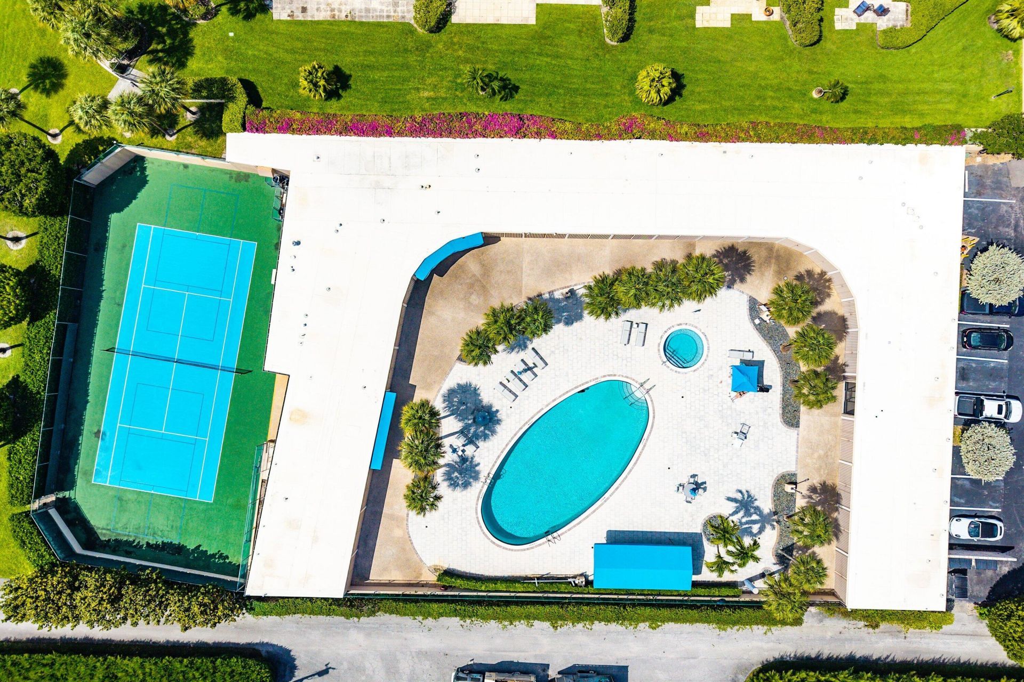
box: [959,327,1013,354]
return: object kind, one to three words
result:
car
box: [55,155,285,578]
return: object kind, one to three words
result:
tennis court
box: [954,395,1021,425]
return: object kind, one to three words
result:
truck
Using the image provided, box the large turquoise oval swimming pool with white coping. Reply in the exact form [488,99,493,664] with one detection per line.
[473,372,657,553]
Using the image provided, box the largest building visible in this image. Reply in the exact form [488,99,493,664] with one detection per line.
[226,132,966,611]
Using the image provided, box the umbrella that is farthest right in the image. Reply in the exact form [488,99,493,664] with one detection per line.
[730,365,757,392]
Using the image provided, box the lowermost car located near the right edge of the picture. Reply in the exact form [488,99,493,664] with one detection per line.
[949,516,1003,544]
